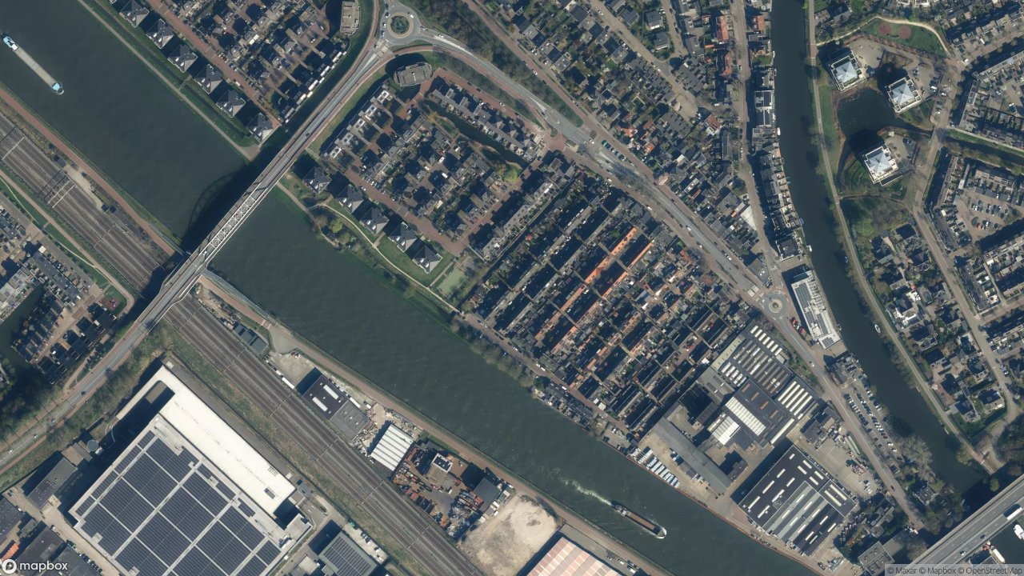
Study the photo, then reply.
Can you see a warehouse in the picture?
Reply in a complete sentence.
Yes, the frame does contain a warehouse.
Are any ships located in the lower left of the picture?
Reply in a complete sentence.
No, no ship appears in the lower left of the picture.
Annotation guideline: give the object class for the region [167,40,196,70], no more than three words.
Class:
house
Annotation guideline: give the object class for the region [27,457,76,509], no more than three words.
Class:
building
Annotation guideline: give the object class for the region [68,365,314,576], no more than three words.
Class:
warehouse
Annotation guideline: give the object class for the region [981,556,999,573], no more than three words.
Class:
boat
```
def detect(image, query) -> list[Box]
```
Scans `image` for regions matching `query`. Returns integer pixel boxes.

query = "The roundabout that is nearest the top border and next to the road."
[381,6,418,44]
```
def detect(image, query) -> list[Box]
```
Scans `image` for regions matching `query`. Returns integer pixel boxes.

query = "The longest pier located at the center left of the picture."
[209,270,273,319]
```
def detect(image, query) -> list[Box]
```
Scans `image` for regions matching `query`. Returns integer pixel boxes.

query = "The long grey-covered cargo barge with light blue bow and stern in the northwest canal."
[0,33,62,93]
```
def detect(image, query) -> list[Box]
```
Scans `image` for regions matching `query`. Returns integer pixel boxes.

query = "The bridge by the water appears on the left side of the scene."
[128,144,306,345]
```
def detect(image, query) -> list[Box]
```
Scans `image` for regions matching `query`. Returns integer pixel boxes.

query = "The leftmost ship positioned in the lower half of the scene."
[611,501,666,538]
